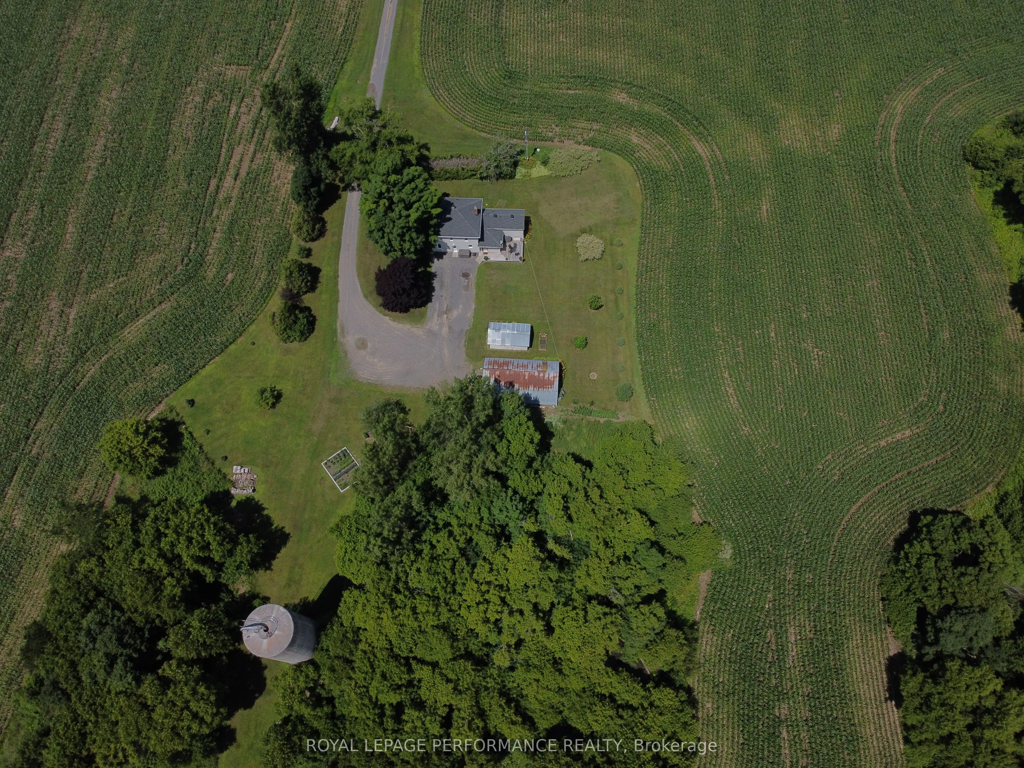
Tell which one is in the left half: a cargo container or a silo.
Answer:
silo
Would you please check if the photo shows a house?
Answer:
Yes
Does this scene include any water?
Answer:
No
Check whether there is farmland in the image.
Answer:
Yes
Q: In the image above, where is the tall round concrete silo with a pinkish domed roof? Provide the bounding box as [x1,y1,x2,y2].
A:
[239,604,320,666]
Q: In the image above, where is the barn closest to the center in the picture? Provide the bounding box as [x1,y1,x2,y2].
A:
[478,358,559,409]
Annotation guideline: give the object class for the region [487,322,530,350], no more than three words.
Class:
shed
